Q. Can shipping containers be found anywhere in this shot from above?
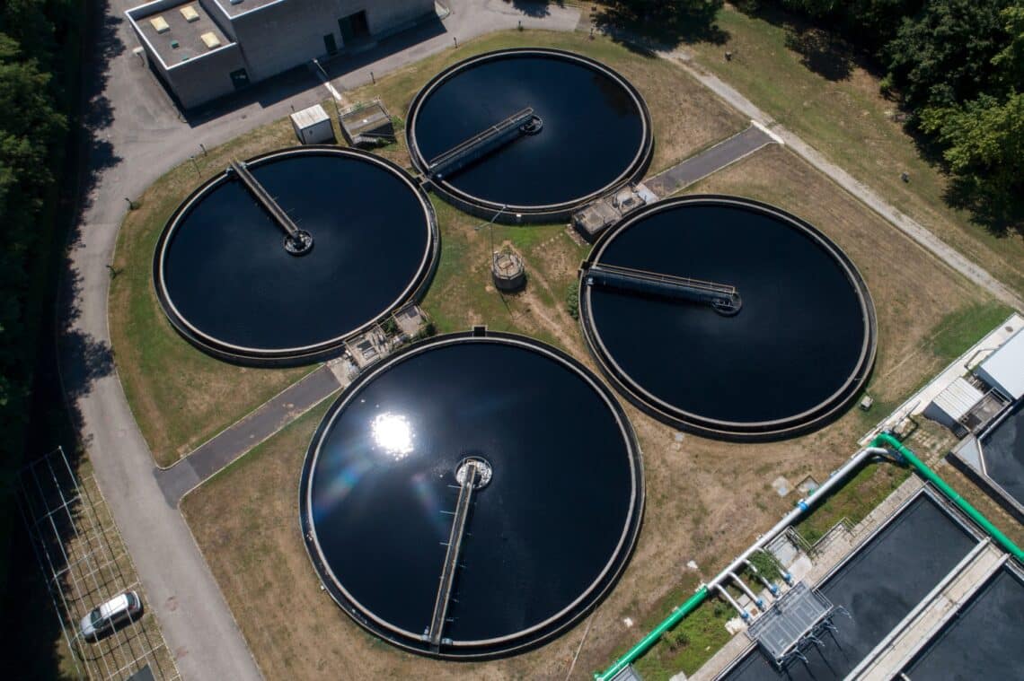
No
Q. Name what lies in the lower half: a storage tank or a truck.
storage tank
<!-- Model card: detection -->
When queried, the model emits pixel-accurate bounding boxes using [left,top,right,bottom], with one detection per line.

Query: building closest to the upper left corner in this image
[127,0,253,109]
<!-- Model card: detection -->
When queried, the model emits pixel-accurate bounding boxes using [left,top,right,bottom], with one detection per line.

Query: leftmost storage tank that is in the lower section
[300,324,646,662]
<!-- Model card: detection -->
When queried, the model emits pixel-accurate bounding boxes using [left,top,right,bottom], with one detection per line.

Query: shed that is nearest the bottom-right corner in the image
[924,378,985,431]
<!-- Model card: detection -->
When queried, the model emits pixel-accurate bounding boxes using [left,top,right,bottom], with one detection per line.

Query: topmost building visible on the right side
[971,330,1024,400]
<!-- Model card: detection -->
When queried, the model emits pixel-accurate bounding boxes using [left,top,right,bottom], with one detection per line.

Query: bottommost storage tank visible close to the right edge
[943,397,1024,535]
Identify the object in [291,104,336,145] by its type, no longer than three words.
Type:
building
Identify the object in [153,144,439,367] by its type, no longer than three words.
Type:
storage tank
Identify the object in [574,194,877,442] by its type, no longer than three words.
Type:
storage tank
